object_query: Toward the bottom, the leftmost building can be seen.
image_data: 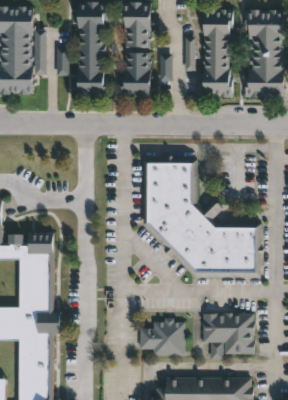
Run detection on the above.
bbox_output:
[0,200,59,400]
